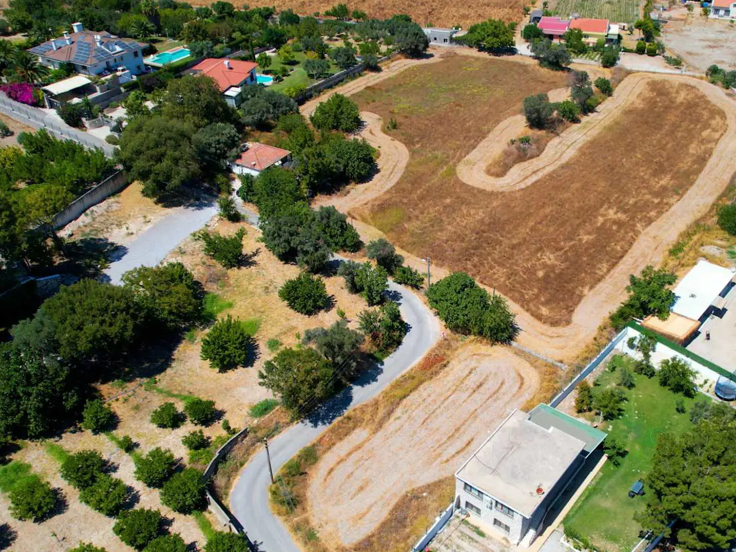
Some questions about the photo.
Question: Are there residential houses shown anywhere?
Yes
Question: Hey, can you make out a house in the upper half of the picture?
Yes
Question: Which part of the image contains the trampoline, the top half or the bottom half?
bottom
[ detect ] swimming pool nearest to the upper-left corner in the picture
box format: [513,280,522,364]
[149,47,192,68]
